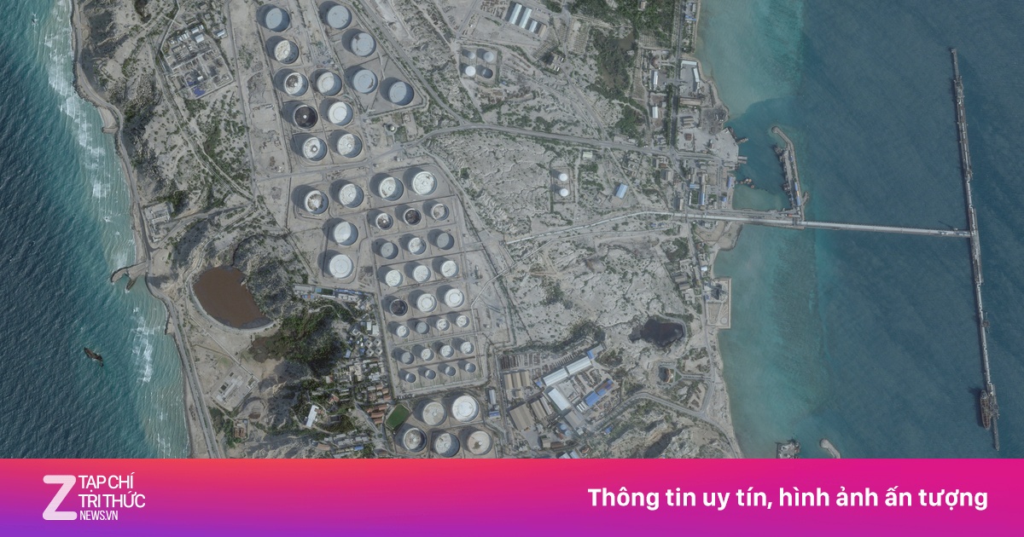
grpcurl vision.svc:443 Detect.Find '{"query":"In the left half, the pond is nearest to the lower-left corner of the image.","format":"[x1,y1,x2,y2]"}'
[193,266,270,328]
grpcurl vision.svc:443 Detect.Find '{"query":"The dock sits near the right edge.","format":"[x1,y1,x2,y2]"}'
[952,48,998,449]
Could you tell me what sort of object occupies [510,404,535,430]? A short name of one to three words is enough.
building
